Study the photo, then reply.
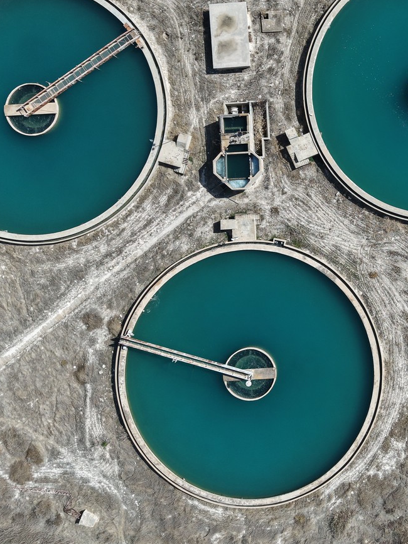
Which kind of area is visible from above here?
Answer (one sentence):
What you see here is an industrial area.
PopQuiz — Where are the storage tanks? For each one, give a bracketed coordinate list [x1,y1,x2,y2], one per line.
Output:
[300,0,408,223]
[0,0,173,247]
[114,231,386,510]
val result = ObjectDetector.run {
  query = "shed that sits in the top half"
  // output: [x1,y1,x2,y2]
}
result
[209,2,252,72]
